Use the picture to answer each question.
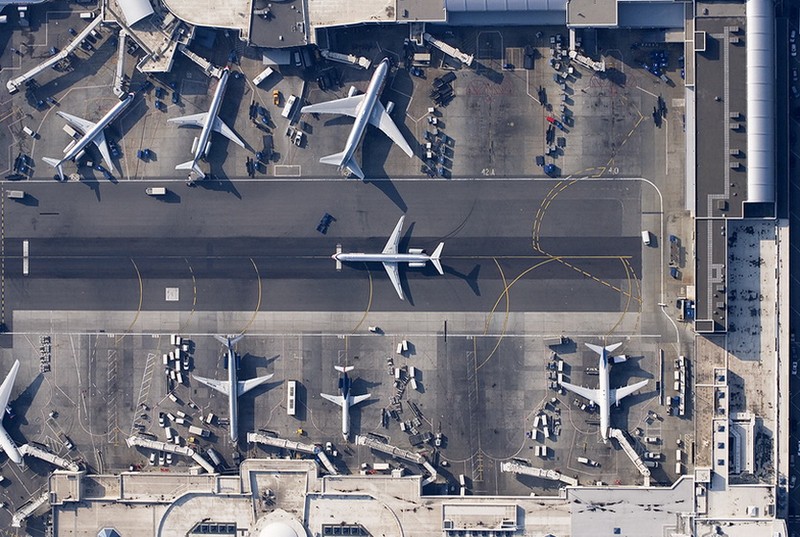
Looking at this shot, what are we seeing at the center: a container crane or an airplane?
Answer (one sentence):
The one visible at the center is an airplane.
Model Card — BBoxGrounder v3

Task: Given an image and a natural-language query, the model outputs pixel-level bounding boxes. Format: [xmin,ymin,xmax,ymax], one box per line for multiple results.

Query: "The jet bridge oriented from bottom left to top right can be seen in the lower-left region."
[9,491,51,532]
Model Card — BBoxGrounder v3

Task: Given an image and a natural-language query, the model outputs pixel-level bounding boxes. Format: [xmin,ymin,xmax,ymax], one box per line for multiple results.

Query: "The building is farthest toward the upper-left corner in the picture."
[103,0,196,73]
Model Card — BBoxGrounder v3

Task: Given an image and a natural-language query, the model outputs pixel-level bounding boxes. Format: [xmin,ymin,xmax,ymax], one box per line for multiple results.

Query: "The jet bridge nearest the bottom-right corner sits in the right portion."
[607,427,651,487]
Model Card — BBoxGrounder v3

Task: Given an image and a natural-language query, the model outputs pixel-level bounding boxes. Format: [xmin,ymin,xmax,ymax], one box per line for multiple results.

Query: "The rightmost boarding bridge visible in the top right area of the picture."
[567,27,610,72]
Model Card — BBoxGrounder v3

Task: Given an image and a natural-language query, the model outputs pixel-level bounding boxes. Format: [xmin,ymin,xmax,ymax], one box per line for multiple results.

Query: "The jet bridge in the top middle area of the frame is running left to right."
[320,48,374,70]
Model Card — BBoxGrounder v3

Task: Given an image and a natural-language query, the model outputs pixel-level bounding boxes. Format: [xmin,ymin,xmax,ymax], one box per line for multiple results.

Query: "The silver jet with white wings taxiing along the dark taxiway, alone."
[332,217,445,299]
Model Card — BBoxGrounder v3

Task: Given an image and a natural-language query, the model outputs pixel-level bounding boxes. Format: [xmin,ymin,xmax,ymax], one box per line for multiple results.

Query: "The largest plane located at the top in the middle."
[302,58,413,180]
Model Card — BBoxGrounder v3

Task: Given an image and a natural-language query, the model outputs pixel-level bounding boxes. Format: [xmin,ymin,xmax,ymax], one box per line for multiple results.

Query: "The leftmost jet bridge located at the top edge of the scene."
[5,11,104,95]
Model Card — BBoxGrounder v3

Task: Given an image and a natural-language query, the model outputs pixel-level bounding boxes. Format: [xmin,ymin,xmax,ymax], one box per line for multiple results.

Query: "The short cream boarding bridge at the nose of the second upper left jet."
[177,42,228,82]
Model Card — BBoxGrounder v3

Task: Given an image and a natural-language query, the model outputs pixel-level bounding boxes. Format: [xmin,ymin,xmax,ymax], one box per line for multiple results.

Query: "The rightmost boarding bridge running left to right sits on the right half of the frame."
[497,460,578,486]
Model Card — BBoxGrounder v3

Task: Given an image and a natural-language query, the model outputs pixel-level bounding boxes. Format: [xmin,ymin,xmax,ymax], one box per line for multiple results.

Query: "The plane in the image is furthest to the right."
[562,344,649,443]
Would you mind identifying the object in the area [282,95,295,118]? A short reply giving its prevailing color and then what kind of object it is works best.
white vehicle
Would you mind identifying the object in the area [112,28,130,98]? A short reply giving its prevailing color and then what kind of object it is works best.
white jet bridge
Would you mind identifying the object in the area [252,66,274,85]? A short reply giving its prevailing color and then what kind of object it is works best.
white vehicle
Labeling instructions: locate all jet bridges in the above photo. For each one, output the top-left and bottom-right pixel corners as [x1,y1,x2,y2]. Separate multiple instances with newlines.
[567,27,610,72]
[15,443,80,472]
[607,427,651,487]
[423,31,477,71]
[5,11,104,95]
[243,430,337,475]
[320,48,374,70]
[354,434,440,487]
[123,434,214,474]
[112,28,130,98]
[497,460,578,486]
[9,491,51,532]
[177,42,228,82]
